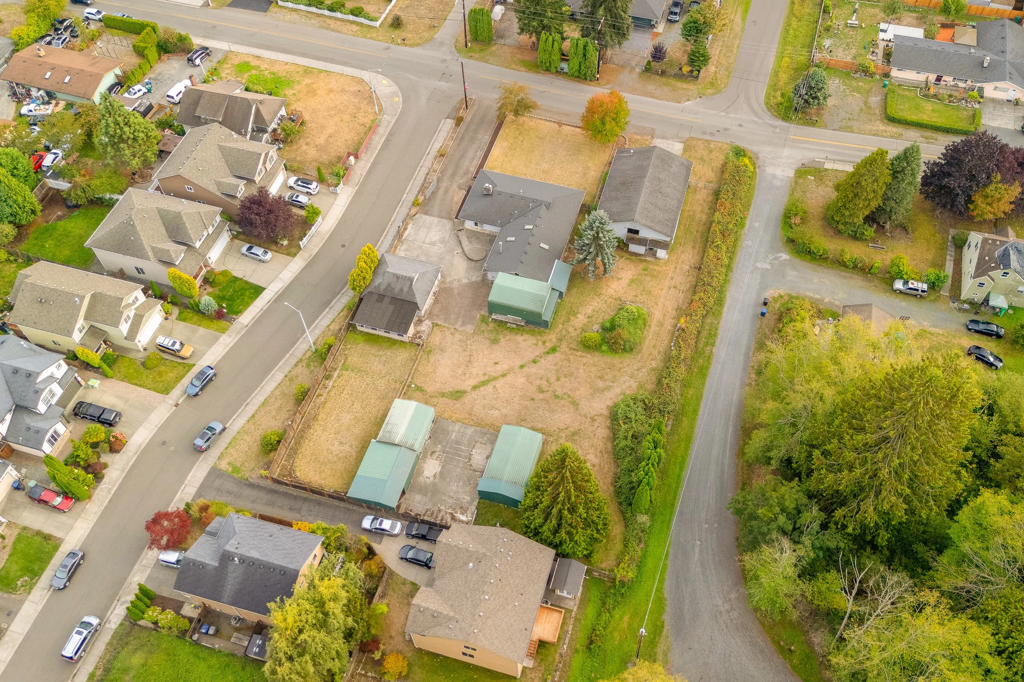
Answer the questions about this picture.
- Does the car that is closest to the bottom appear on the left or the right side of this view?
left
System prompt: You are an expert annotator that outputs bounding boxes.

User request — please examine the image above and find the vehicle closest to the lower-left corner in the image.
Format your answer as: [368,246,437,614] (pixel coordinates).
[60,616,103,664]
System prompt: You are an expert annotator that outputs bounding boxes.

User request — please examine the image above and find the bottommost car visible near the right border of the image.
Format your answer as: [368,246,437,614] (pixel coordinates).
[966,345,1003,370]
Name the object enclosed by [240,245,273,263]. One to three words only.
car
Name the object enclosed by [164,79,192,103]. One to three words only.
vehicle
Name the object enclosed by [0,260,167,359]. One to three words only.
house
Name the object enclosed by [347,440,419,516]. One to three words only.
shed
